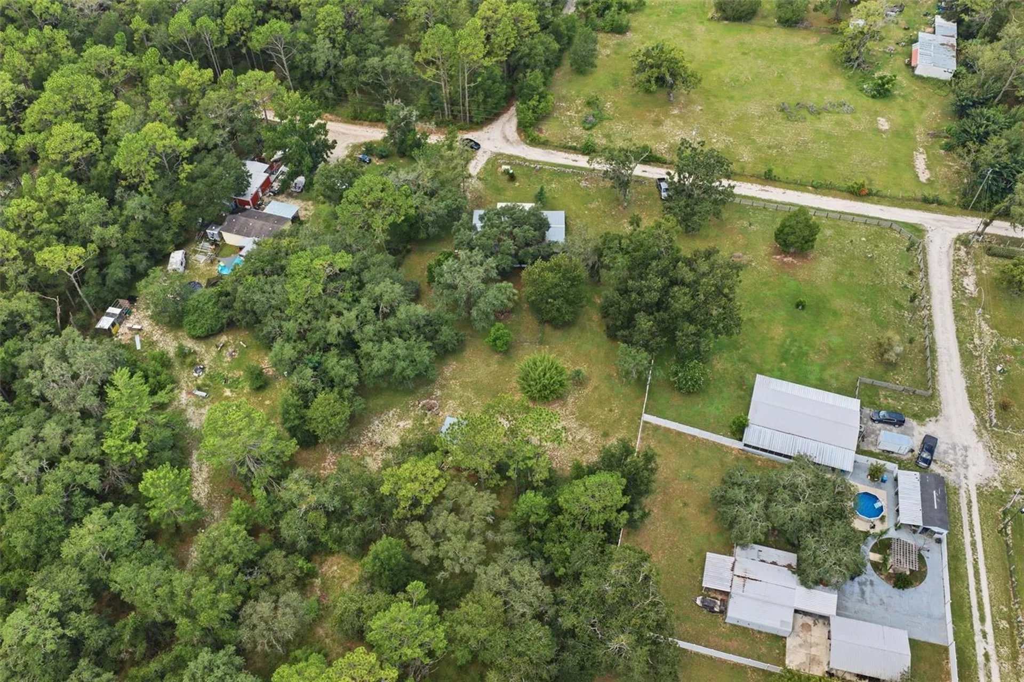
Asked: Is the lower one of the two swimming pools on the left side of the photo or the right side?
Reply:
right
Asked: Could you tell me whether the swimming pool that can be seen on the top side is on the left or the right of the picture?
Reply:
left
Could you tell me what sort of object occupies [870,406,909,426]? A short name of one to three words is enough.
car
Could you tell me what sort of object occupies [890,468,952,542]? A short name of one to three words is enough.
building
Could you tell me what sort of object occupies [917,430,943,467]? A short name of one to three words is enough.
truck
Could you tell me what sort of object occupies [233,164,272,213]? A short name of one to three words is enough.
barn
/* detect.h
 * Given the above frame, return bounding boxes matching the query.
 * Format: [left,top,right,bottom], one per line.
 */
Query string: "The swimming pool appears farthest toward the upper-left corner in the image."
[216,247,246,274]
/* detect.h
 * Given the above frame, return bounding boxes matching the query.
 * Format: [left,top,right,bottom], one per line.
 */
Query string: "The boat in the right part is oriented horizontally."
[693,593,732,611]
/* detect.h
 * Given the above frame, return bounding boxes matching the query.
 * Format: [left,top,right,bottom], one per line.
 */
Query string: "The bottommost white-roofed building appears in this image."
[824,616,916,682]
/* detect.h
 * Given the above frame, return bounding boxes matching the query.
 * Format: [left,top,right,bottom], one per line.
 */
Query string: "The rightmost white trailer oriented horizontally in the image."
[878,426,922,452]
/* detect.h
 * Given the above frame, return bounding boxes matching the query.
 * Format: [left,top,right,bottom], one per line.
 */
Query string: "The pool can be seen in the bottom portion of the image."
[851,492,886,522]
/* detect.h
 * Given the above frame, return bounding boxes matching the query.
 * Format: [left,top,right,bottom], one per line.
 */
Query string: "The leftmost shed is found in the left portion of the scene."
[96,295,136,344]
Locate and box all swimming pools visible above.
[851,492,886,522]
[216,247,246,274]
